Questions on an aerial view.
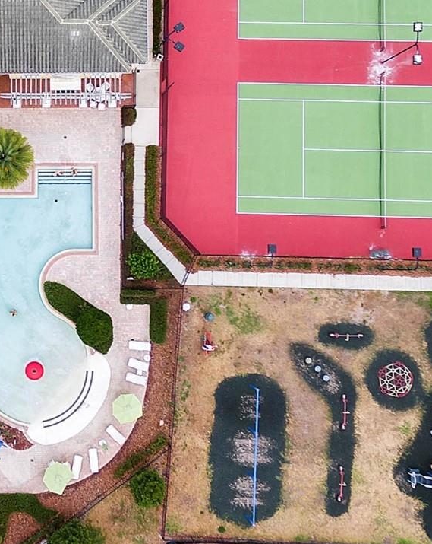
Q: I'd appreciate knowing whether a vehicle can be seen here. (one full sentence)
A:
No, there isn't any vehicle down there.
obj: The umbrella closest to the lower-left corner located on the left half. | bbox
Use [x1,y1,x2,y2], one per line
[43,462,71,491]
